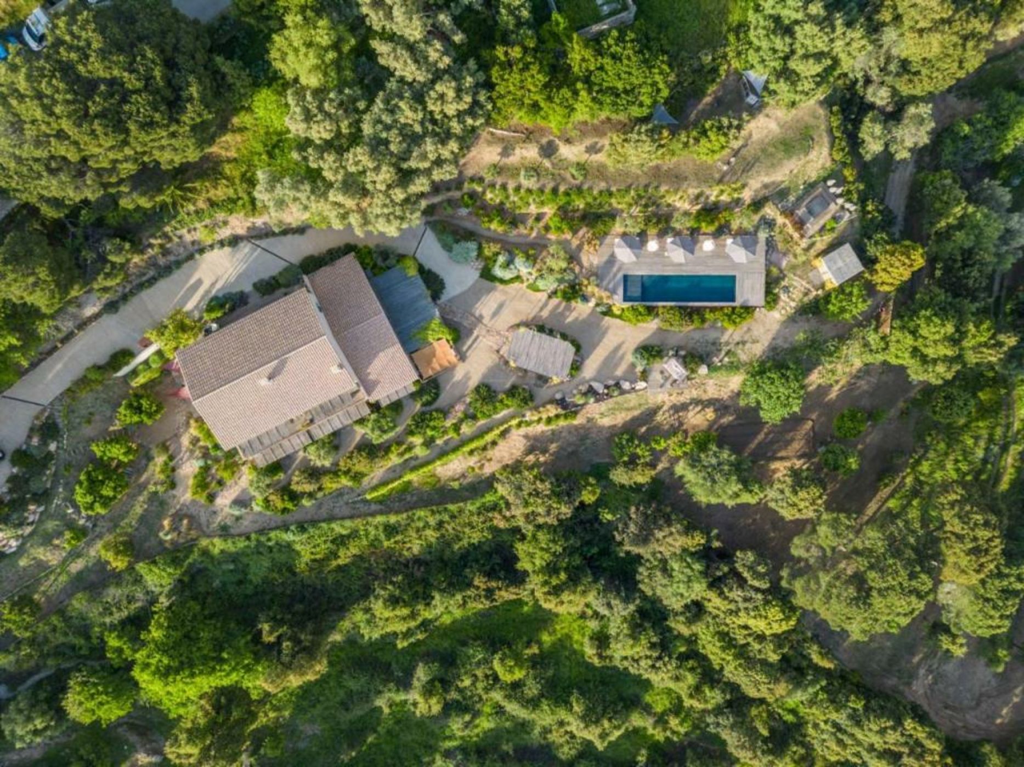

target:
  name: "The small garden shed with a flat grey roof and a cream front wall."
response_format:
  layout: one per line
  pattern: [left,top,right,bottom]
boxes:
[813,243,864,287]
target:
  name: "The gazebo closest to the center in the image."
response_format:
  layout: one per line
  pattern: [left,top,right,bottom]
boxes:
[507,328,575,380]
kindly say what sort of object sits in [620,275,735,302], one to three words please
swimming pool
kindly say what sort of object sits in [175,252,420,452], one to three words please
house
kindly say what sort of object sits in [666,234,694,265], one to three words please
umbrella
